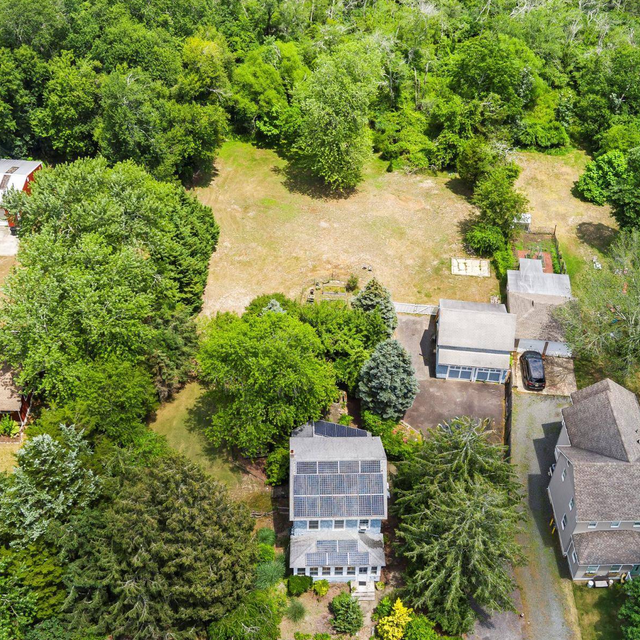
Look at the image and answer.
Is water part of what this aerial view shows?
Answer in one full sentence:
No, the scene doesn't show any water.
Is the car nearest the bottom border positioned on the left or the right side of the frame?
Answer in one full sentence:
You can find the car nearest the bottom border on the right side of the picture.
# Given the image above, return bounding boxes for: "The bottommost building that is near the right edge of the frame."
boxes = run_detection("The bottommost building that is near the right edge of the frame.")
[540,376,640,580]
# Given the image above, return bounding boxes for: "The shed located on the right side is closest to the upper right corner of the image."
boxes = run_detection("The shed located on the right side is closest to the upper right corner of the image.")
[515,211,537,234]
